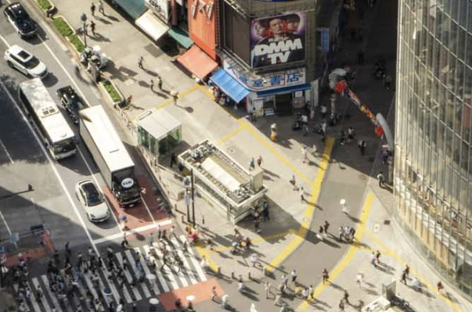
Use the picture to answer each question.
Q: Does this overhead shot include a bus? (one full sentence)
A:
Yes, the picture does show a bus.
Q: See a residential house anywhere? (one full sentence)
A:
Yes, the photo shows a residential house.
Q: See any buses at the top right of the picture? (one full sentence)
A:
No, there is no bus at the top right of the picture.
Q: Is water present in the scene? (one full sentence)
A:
No, water can't be seen anywhere here.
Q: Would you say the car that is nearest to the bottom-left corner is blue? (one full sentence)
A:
No, the color of the car that is nearest to the bottom-left corner is white.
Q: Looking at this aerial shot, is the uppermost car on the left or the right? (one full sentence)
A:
You can find the uppermost car on the left side of the picture.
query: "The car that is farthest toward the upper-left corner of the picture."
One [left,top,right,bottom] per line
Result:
[1,1,38,37]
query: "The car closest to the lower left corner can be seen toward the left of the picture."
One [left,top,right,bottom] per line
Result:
[73,179,108,220]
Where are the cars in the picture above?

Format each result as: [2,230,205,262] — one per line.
[73,179,108,220]
[1,1,38,37]
[55,84,86,123]
[2,44,45,80]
